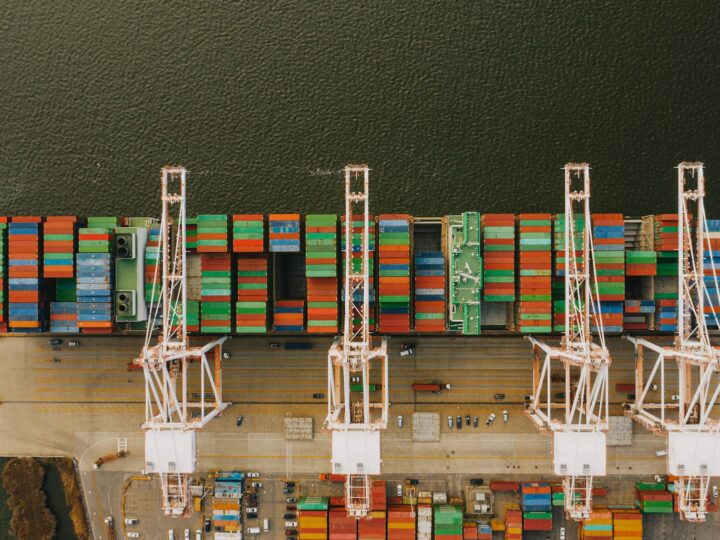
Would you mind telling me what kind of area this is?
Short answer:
port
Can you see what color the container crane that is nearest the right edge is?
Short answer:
white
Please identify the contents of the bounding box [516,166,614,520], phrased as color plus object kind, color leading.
white container crane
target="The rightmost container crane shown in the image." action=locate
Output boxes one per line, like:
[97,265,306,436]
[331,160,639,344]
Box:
[615,166,720,520]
